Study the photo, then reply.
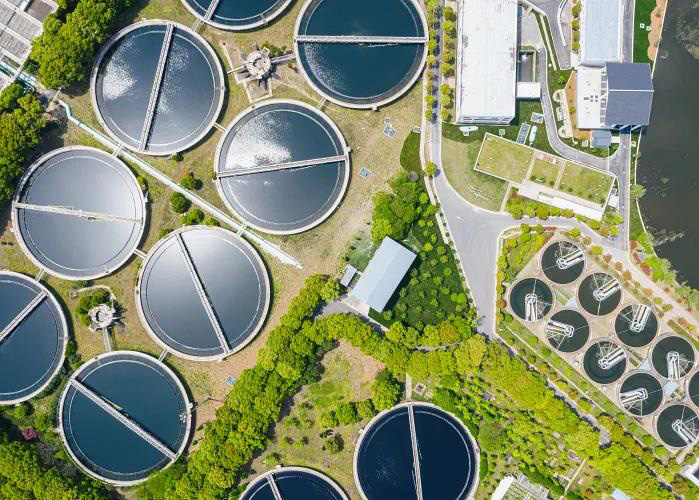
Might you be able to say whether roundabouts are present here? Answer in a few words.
No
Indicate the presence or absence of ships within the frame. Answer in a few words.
No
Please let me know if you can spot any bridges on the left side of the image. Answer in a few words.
Yes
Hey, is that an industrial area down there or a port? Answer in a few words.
industrial area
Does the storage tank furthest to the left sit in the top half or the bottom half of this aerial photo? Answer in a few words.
bottom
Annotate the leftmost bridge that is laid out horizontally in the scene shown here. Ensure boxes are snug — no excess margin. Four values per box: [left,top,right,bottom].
[12,202,142,223]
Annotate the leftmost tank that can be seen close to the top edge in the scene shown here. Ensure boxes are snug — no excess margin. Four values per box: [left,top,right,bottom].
[90,20,225,155]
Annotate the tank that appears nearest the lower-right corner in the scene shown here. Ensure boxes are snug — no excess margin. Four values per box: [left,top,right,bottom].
[652,399,699,450]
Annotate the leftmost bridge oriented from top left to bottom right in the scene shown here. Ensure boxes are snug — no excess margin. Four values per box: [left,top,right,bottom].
[70,376,177,462]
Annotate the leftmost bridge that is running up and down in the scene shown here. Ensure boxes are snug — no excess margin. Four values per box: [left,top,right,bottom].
[139,20,173,152]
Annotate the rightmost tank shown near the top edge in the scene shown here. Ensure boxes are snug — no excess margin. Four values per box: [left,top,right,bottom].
[294,0,427,111]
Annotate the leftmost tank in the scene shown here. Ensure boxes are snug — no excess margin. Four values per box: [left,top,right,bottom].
[0,270,70,405]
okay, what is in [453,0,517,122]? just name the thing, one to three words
building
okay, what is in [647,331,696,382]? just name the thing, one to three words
storage tank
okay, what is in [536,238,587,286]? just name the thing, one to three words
storage tank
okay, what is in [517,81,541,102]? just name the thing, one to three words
shed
